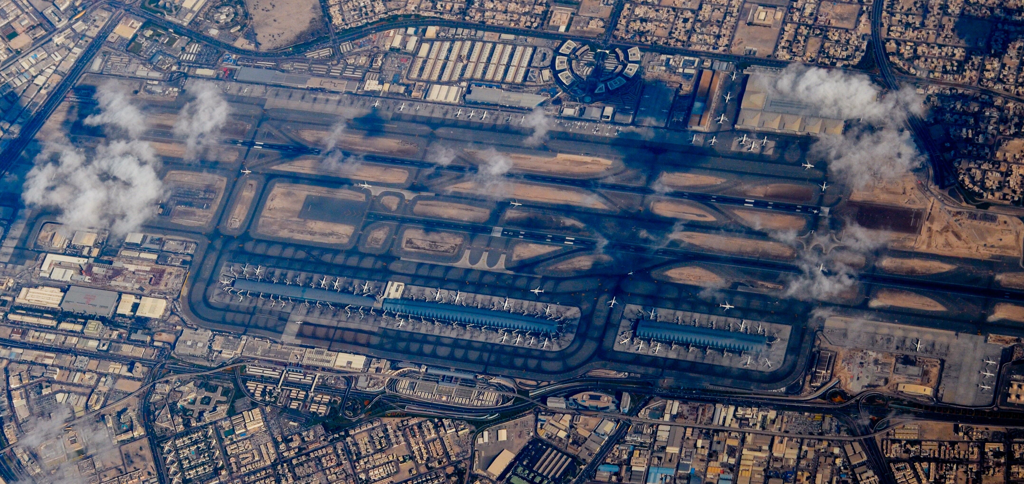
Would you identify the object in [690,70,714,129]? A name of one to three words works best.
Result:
hangar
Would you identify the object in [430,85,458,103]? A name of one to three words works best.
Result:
hangar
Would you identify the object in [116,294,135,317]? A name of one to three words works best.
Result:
building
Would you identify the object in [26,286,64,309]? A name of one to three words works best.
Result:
building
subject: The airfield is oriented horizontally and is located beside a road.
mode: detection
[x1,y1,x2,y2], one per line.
[0,77,1024,408]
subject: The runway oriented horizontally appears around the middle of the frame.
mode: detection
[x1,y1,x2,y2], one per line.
[130,124,1024,301]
